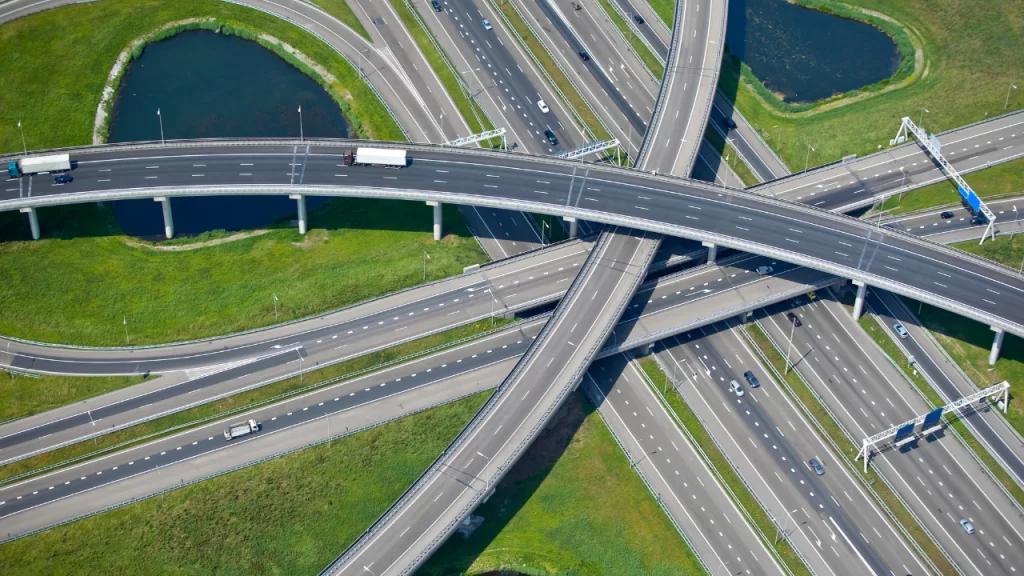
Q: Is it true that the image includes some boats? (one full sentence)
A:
No, there's no boat here.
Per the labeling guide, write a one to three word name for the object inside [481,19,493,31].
vehicle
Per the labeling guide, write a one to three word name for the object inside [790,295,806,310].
car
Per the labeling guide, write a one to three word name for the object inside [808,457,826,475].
car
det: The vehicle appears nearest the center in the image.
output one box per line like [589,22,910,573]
[544,129,557,142]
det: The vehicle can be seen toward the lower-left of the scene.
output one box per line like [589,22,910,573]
[225,418,261,437]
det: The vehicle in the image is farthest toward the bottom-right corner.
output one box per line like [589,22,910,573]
[958,517,977,535]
